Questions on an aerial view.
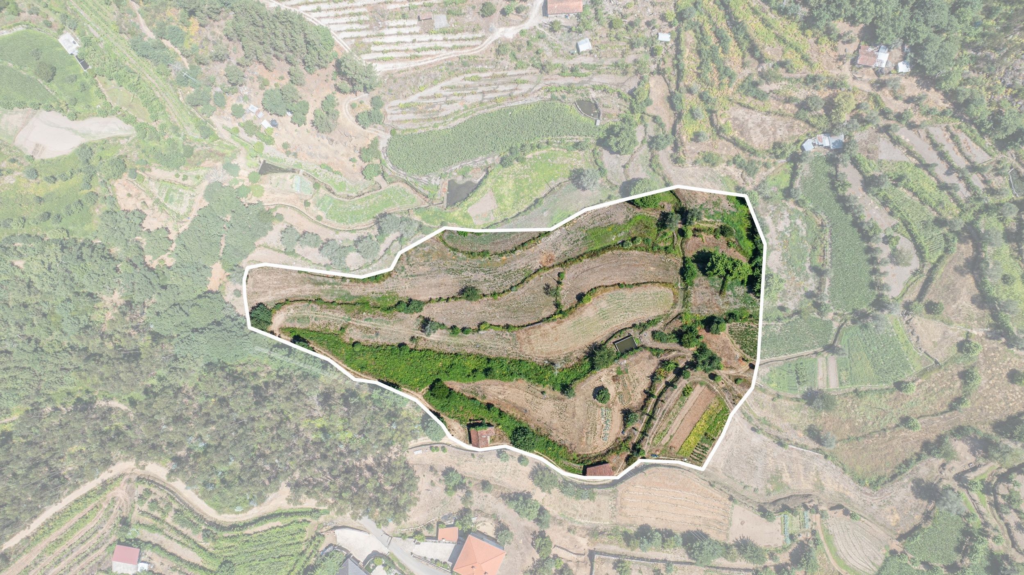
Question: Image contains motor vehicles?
No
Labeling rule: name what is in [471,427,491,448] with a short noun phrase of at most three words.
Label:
house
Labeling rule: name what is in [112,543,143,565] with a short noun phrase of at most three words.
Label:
shed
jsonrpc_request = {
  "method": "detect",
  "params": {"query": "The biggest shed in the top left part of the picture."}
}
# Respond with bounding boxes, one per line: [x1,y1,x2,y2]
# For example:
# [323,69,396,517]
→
[59,33,84,57]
